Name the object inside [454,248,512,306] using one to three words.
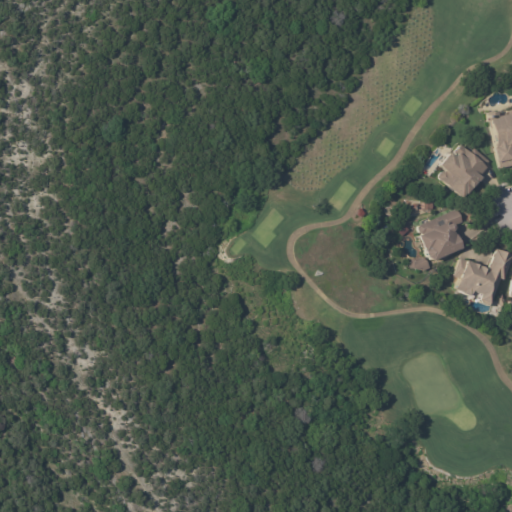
house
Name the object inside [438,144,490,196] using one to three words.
house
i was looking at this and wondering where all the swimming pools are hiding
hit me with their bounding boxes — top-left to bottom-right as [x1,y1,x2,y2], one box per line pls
[472,302,491,312]
[404,239,418,258]
[426,149,440,169]
[488,92,512,106]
